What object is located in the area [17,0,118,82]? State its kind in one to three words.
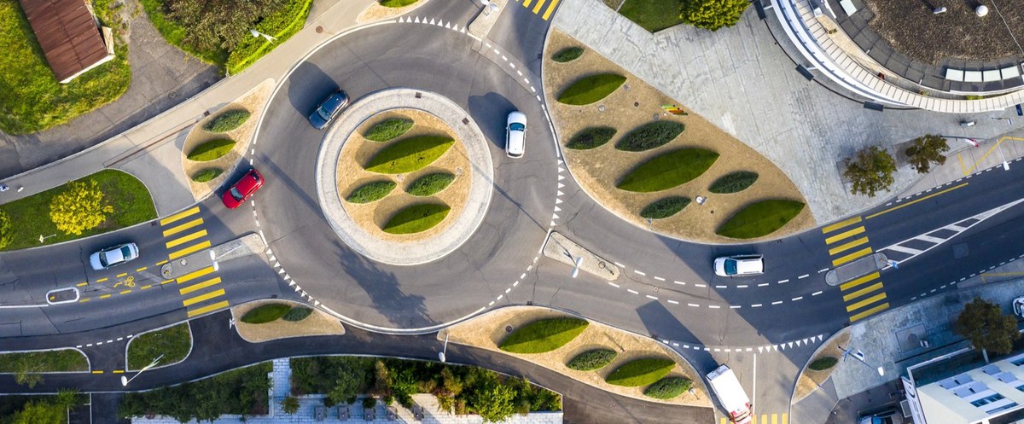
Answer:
shed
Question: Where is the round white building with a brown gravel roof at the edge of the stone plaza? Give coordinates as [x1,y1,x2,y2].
[752,0,1024,121]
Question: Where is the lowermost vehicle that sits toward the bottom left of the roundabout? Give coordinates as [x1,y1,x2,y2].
[90,240,143,271]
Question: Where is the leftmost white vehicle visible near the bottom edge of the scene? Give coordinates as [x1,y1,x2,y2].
[701,357,753,422]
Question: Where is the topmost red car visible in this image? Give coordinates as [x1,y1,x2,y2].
[221,167,267,209]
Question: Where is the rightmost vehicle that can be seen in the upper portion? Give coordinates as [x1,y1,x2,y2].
[505,112,529,158]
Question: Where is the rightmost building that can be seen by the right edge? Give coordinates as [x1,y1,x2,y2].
[923,355,1024,424]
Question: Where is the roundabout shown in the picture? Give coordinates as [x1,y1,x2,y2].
[250,18,564,336]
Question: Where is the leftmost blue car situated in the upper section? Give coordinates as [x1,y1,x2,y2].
[309,87,353,130]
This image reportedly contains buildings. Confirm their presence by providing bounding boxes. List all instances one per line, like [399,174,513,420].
[17,0,118,82]
[752,0,1024,121]
[923,355,1024,424]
